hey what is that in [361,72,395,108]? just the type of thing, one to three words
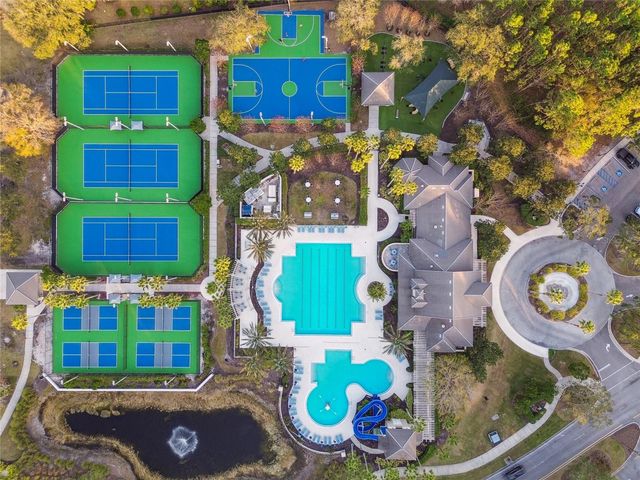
building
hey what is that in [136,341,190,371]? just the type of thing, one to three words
sports court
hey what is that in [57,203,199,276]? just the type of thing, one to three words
tennis court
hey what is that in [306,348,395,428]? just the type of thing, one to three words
swimming pool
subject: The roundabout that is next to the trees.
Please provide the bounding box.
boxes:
[501,234,615,348]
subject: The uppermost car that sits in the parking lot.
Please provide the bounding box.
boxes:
[619,149,639,168]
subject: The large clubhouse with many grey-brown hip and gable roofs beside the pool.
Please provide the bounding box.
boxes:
[395,155,492,352]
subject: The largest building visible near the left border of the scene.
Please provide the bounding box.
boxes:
[6,272,46,305]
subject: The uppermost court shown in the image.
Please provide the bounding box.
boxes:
[258,9,351,55]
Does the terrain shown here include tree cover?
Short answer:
Yes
